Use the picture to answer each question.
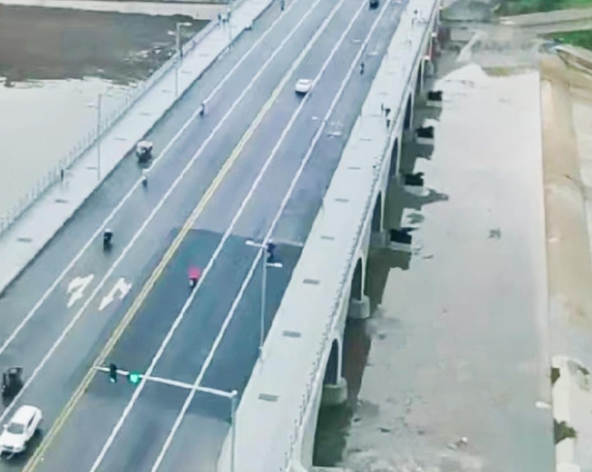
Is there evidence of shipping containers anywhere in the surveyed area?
No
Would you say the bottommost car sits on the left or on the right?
left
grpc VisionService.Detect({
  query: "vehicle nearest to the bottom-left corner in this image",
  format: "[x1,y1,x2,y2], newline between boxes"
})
[0,398,45,450]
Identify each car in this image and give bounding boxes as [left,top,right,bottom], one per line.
[368,0,381,8]
[295,79,314,94]
[0,398,45,450]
